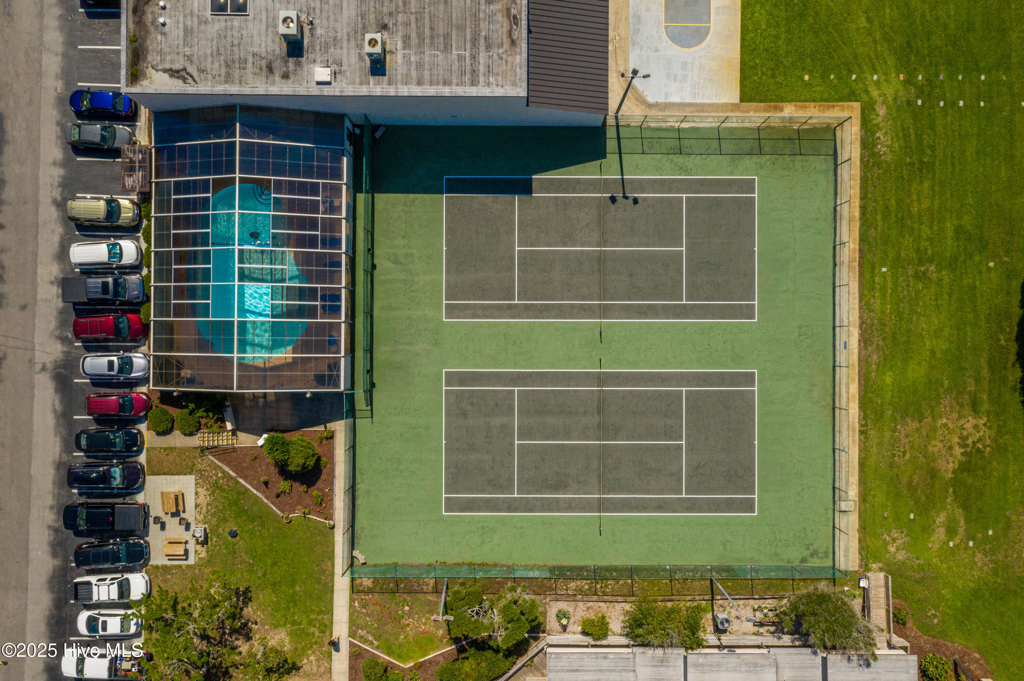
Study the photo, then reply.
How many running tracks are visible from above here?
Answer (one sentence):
There are no running tracks in the image.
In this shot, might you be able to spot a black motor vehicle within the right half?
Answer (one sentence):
No, no black motor vehicle appears within the right half.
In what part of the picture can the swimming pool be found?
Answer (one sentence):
The swimming pool appears toward the left of the photo.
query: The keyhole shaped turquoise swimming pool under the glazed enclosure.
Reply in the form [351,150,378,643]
[189,181,311,362]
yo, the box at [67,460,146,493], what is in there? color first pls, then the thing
black vehicle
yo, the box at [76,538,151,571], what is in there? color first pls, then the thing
black car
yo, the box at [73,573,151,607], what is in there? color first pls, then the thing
white truck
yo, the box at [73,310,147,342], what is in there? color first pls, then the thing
red car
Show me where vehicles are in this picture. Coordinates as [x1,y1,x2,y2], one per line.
[61,272,146,305]
[68,236,144,269]
[81,350,149,382]
[65,502,148,537]
[67,118,138,149]
[77,425,146,456]
[84,388,154,420]
[73,310,147,342]
[73,573,151,607]
[71,83,137,117]
[80,608,144,642]
[65,648,148,681]
[80,0,122,13]
[76,538,151,571]
[65,193,142,226]
[67,460,146,493]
